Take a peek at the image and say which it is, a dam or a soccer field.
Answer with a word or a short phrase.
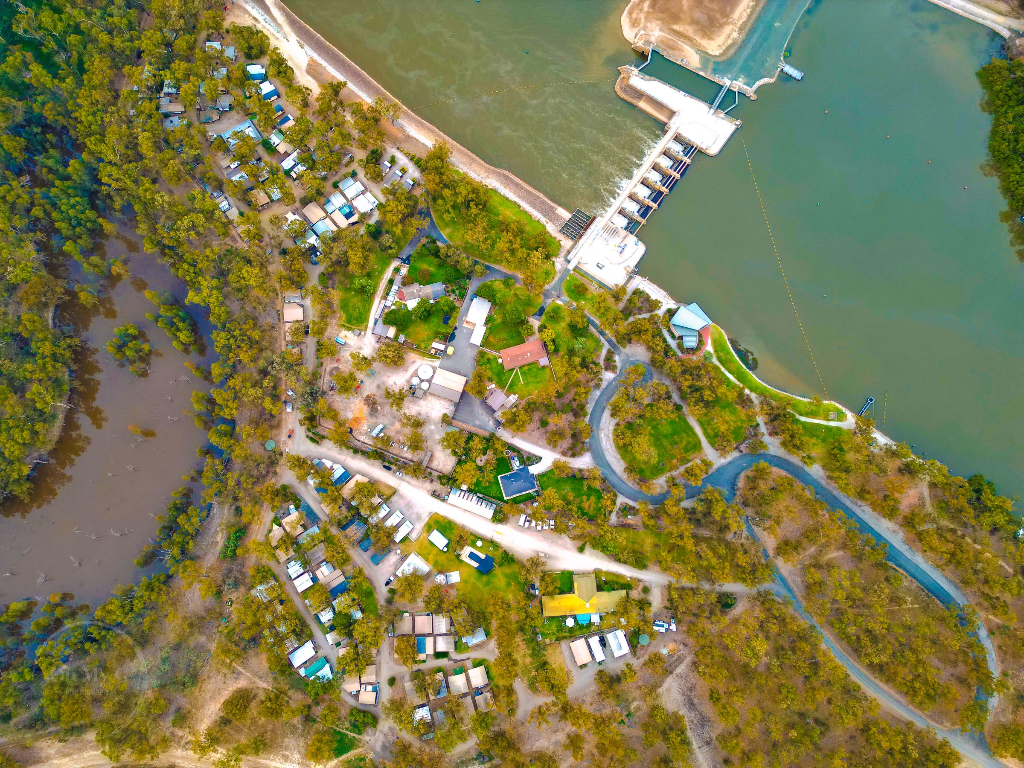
dam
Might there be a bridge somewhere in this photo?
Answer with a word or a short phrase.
Yes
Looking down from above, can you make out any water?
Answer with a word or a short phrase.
Yes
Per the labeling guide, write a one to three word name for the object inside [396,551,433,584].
building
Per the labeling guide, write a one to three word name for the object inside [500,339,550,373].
house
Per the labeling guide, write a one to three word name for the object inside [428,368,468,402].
shed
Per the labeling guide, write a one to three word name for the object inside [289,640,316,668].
building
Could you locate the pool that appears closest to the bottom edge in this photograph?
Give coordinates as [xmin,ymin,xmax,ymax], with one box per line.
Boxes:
[459,546,486,570]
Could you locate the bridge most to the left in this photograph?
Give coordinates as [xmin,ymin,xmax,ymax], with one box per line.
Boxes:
[566,123,679,272]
